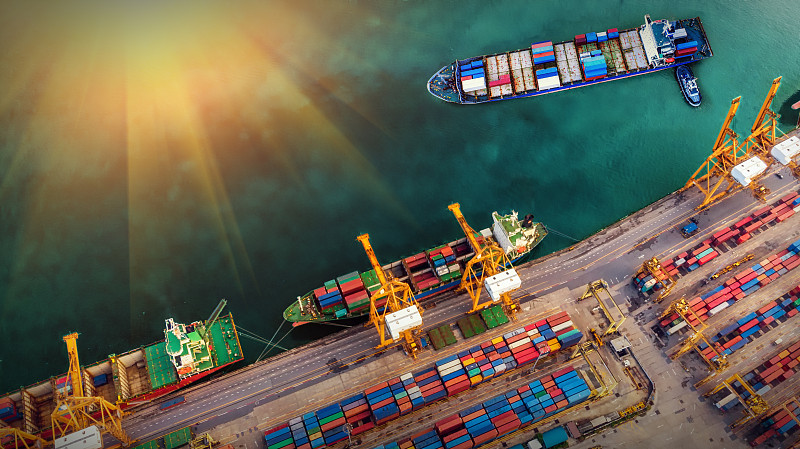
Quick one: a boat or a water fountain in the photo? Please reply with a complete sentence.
There is a boat in the scene.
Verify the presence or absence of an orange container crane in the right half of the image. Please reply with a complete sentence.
Yes, I can see an orange container crane in the right half of the image.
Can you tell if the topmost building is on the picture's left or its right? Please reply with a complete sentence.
The topmost building appears in the right half of the scene.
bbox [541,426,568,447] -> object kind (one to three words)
shed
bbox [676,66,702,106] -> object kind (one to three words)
boat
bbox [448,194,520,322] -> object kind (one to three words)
container crane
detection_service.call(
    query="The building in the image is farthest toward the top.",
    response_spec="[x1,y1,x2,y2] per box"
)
[608,333,634,360]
